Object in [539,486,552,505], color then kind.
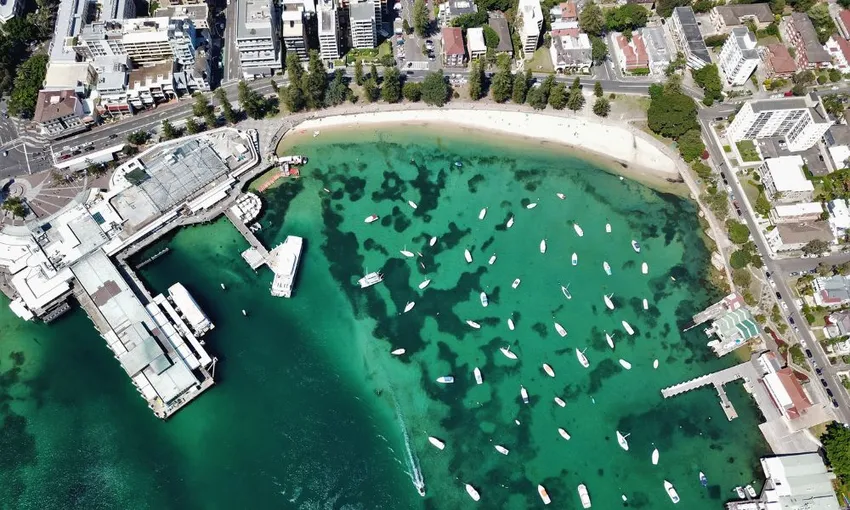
white boat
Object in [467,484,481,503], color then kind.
white boat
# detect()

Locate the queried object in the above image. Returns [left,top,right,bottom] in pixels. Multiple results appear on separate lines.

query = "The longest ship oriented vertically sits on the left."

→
[271,236,303,300]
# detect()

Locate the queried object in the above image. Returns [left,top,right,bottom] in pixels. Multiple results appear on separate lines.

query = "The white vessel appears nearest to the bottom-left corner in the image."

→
[168,281,217,338]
